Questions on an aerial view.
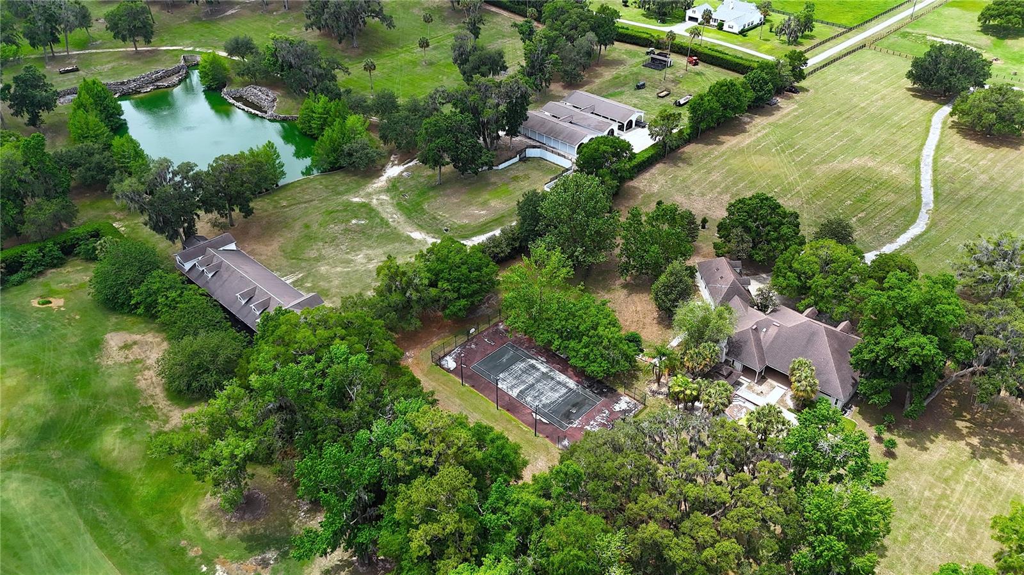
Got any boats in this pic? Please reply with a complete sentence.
No, no boat is visible in the scene.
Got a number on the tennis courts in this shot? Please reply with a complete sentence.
My tally gives 1 tennis court in this photo.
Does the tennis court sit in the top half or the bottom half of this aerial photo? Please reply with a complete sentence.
The tennis court is in the bottom half of the image.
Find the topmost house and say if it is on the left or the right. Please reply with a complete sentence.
The topmost house is on the right side of the image.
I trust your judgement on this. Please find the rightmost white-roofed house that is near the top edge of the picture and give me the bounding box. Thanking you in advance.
[686,5,778,34]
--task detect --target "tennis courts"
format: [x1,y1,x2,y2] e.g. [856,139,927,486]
[434,322,644,462]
